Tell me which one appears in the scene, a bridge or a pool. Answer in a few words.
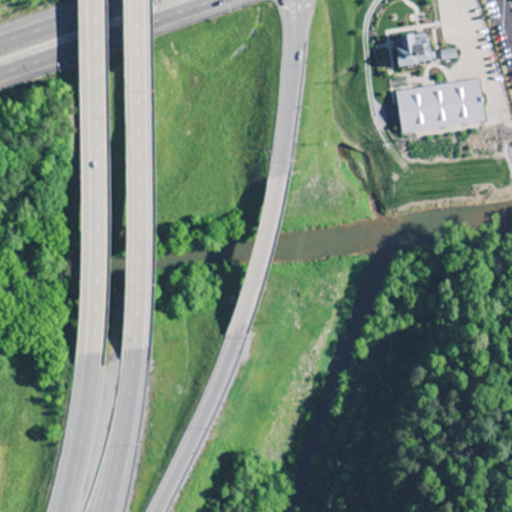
bridge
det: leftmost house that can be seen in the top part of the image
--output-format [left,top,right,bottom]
[397,32,436,68]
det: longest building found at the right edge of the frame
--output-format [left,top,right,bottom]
[396,79,486,134]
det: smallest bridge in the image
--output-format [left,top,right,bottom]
[226,176,290,340]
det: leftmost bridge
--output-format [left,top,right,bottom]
[76,0,111,353]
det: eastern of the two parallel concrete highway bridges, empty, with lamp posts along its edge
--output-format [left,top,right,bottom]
[121,0,156,354]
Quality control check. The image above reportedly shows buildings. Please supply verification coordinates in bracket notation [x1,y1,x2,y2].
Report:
[396,79,486,134]
[440,47,458,61]
[397,32,436,68]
